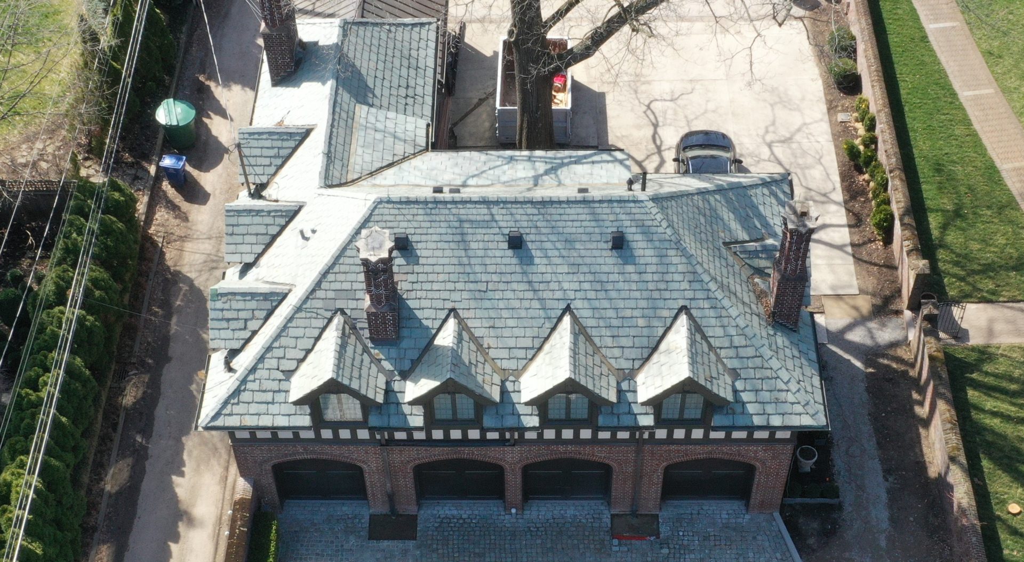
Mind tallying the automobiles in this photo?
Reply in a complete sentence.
I count 1 automobile.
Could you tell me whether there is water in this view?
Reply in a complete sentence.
No, there's no water in this view.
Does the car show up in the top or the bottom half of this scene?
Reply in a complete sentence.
The top half of the photo is where the car is.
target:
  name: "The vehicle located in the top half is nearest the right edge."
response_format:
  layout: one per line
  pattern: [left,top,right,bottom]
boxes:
[674,125,748,173]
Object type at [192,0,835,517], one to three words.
house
